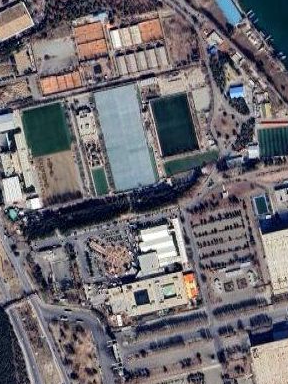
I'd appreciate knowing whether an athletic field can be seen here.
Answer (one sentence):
Yes, the frame does contain an athletic field.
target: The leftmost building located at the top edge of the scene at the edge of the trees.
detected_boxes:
[0,4,34,42]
